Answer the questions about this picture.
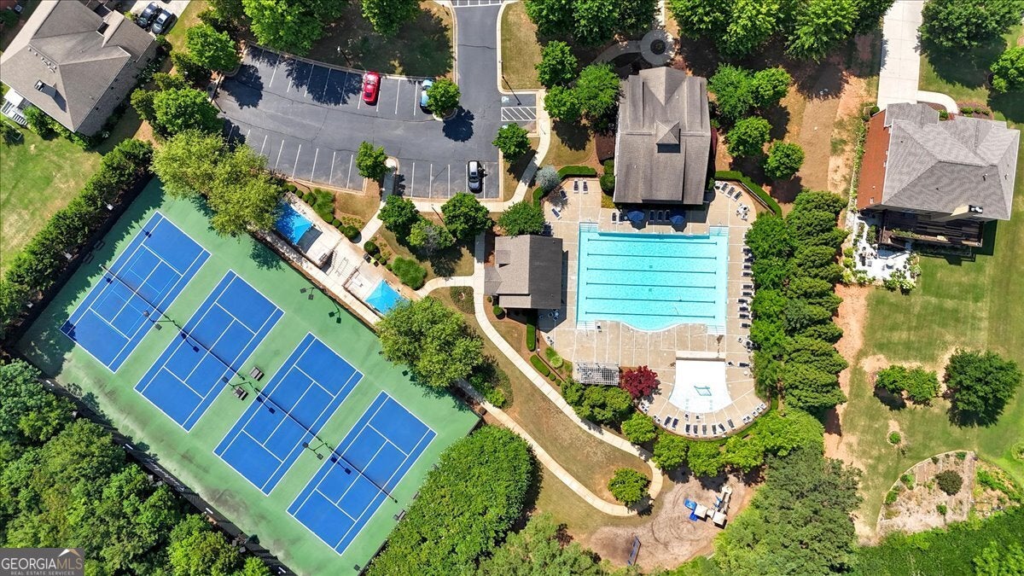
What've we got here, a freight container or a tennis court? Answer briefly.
tennis court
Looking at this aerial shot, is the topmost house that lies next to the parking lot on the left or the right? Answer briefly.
left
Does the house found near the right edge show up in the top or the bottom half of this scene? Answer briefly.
top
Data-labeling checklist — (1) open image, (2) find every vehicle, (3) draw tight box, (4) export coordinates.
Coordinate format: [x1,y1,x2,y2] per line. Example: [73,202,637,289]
[132,0,157,28]
[149,4,172,36]
[468,160,481,192]
[364,71,379,102]
[418,78,432,108]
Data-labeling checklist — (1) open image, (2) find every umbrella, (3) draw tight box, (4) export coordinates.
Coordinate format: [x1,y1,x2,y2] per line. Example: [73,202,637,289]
[626,206,645,225]
[667,211,685,229]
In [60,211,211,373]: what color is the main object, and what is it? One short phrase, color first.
blue tennis court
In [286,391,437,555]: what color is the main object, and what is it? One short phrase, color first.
blue tennis court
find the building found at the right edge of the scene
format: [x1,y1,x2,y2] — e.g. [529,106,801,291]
[859,103,1020,251]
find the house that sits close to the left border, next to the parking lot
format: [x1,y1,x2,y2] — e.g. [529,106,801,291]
[0,0,164,133]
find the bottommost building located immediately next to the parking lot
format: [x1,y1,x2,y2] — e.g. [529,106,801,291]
[485,235,563,308]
